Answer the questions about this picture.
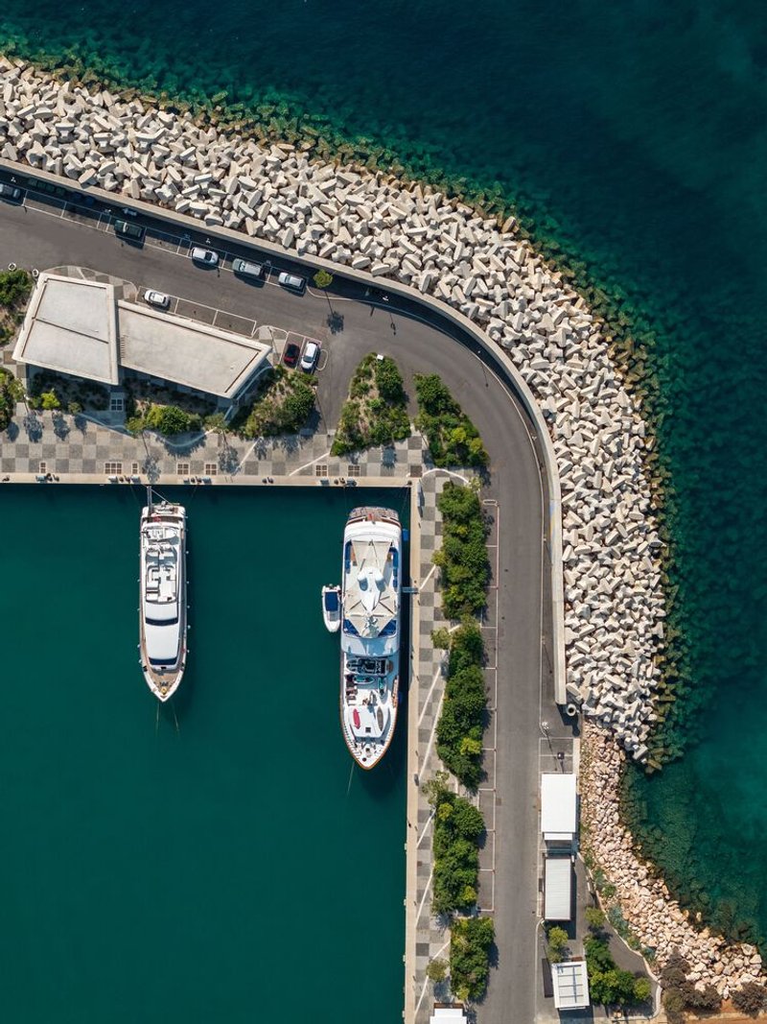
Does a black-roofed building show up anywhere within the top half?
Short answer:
No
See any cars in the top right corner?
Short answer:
No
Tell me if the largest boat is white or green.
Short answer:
white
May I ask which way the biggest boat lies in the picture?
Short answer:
vertically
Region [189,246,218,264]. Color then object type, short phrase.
white car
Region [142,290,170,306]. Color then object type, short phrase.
white car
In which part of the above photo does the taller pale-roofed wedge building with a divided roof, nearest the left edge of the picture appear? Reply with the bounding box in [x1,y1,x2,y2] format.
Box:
[12,272,122,385]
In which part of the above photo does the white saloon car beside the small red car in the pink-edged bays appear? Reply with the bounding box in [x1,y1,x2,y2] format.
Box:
[301,340,318,370]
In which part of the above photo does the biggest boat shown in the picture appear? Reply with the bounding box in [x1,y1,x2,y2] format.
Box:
[340,485,418,791]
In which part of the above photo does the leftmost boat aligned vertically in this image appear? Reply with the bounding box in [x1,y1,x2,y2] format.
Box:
[137,485,196,724]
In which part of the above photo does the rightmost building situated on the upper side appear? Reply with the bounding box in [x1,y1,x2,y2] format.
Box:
[119,300,272,398]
